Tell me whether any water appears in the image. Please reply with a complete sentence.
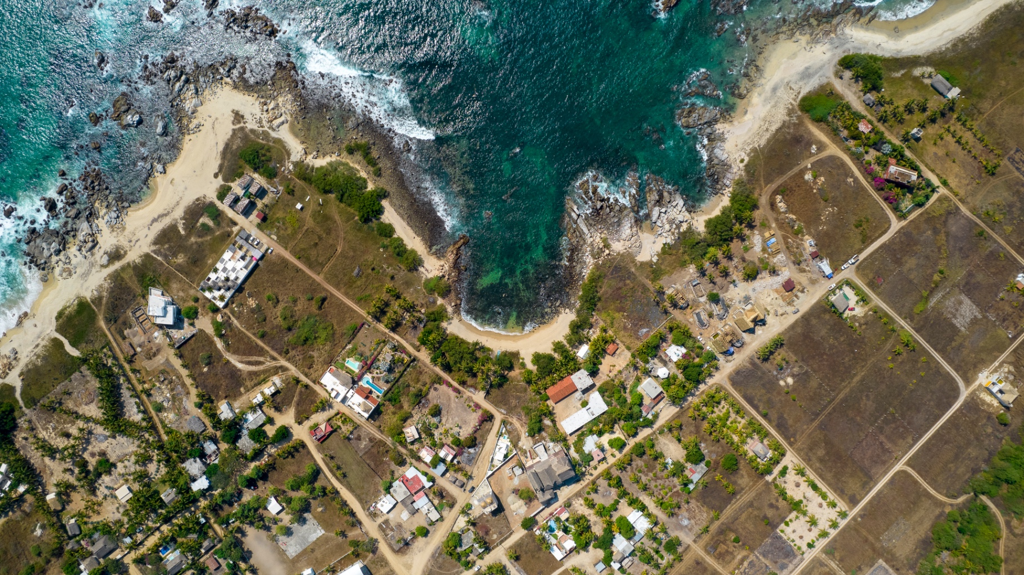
Yes, there is water in the image.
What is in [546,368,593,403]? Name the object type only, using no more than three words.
barn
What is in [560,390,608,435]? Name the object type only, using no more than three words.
house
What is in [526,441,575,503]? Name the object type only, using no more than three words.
building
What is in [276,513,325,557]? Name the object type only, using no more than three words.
sports court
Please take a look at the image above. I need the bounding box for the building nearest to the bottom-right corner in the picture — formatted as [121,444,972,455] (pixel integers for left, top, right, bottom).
[981,376,1020,408]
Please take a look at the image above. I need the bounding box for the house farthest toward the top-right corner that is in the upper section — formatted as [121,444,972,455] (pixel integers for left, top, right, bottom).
[929,74,961,100]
